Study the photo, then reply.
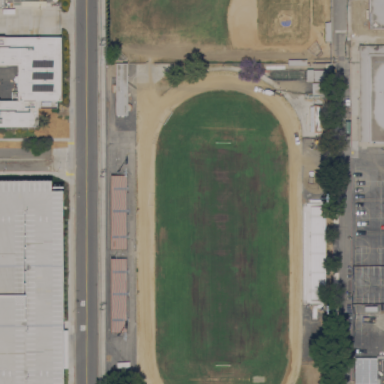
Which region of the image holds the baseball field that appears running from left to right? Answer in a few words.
top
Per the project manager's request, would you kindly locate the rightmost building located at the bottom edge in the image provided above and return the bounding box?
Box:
[354,358,380,384]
